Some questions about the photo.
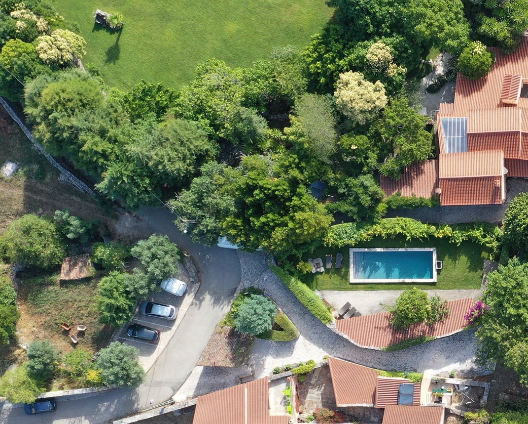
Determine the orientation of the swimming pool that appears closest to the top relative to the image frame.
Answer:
horizontally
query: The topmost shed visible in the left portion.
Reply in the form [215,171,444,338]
[61,253,101,279]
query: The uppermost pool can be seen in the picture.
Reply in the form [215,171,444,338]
[350,248,442,284]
